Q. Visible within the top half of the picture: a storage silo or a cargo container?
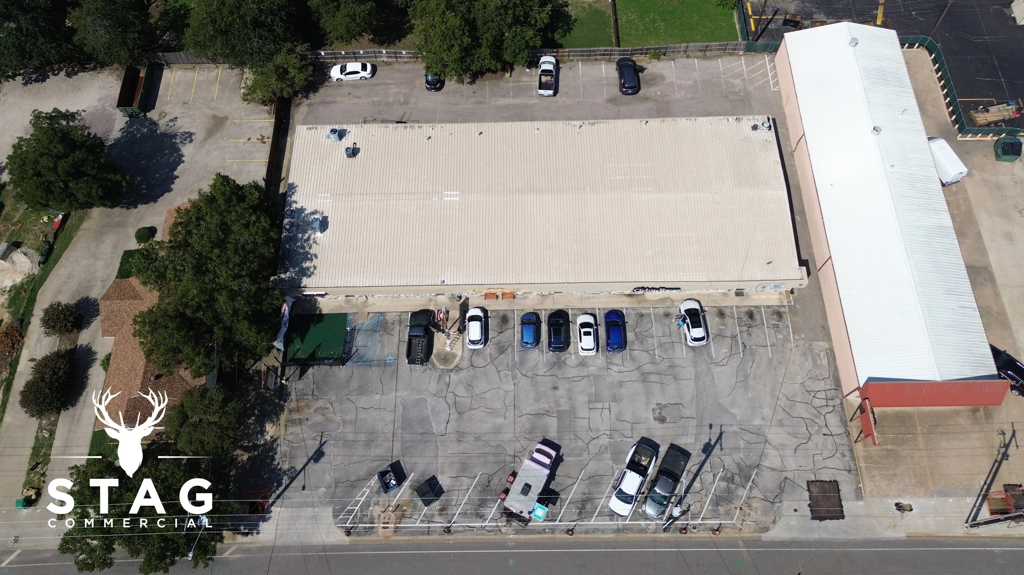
cargo container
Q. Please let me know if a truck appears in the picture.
Yes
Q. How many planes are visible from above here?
0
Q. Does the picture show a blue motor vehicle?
Yes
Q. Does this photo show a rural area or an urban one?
urban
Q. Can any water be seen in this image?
No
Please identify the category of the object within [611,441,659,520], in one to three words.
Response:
truck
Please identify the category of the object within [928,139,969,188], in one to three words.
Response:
van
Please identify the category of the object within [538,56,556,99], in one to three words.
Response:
vehicle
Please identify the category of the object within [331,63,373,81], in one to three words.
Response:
car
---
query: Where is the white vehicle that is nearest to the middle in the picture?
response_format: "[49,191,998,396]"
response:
[464,311,486,352]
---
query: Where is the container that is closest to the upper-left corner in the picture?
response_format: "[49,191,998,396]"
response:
[117,62,153,119]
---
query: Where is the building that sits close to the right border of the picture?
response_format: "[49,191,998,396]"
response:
[773,21,1013,448]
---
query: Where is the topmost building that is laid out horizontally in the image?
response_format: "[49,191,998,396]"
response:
[272,116,809,301]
